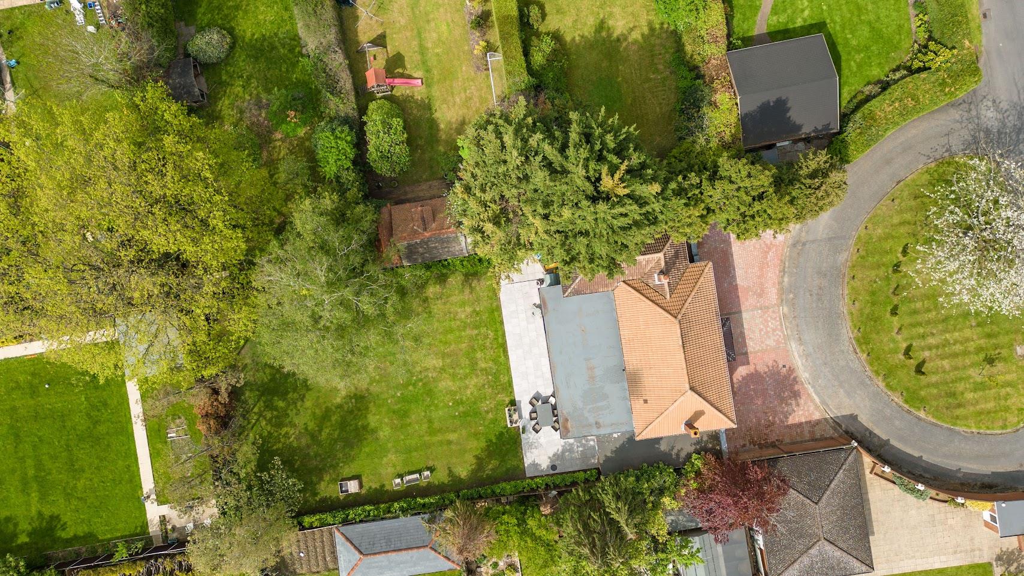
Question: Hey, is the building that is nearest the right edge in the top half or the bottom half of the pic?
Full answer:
It is in the bottom half that the building that is nearest the right edge appears.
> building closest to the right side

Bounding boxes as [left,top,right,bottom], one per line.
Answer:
[970,489,1024,538]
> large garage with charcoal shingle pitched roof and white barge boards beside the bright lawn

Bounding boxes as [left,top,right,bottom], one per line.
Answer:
[727,32,840,150]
